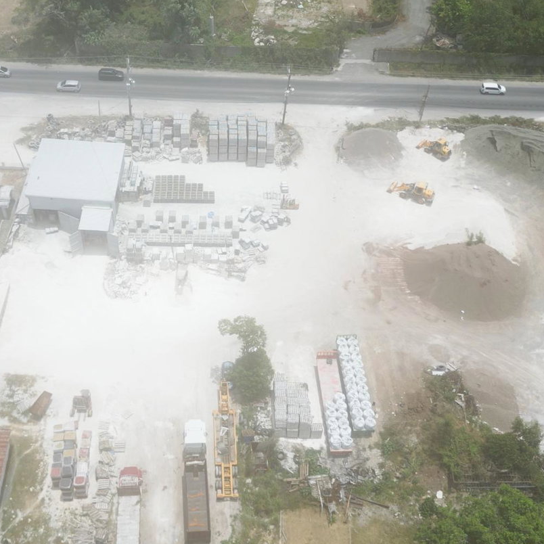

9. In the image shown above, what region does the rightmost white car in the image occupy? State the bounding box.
[480,82,506,96]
